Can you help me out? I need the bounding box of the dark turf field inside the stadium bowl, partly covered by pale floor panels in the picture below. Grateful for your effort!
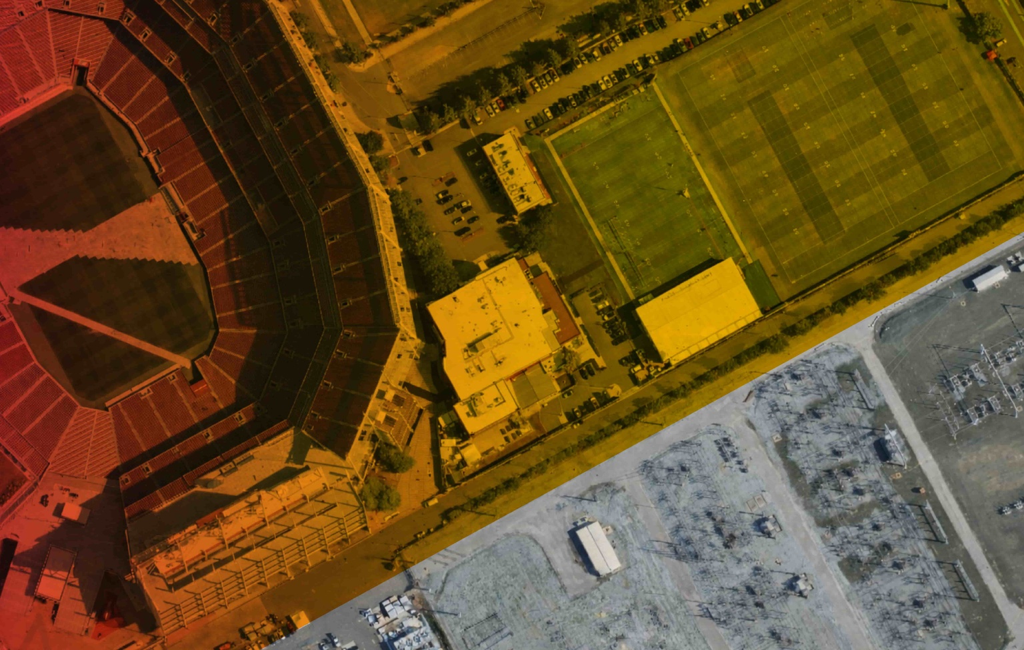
[0,85,217,408]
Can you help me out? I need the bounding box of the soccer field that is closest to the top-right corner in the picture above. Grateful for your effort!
[659,0,1024,300]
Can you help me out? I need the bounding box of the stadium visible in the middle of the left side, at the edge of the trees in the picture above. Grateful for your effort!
[0,0,424,523]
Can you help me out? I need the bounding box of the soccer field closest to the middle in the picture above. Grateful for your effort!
[528,75,781,311]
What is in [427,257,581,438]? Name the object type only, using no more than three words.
building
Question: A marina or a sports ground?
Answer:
sports ground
